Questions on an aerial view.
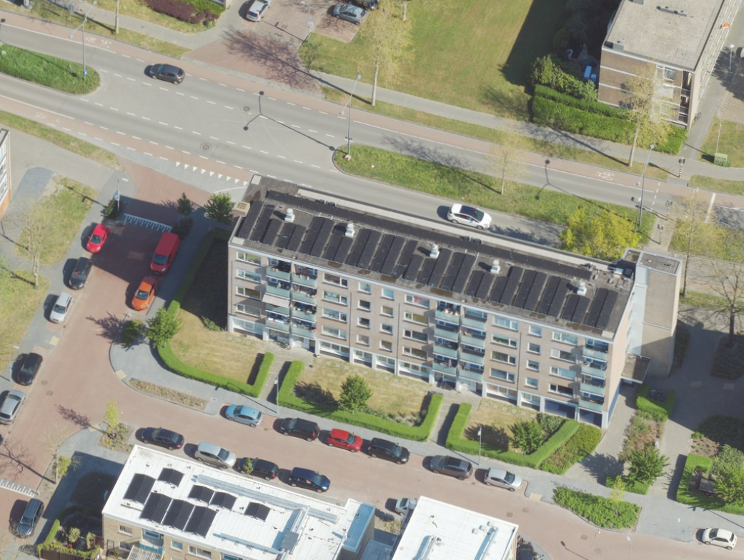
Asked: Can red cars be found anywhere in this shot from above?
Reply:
Yes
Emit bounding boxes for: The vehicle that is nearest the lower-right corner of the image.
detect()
[700,528,738,551]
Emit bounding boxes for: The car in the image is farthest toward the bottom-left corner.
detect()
[16,498,46,539]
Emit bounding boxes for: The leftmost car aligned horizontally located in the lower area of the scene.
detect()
[139,427,187,452]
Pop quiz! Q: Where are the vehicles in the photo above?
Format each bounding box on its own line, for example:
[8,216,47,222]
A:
[366,439,410,465]
[516,538,539,560]
[279,418,321,443]
[427,455,474,481]
[84,221,112,257]
[223,404,266,429]
[193,441,238,471]
[236,455,282,482]
[481,467,524,494]
[130,277,159,312]
[16,498,46,539]
[286,466,333,495]
[242,0,271,25]
[449,204,492,230]
[330,1,370,24]
[0,0,35,9]
[66,256,94,292]
[46,288,76,327]
[139,427,187,452]
[386,494,418,517]
[324,429,366,455]
[700,528,738,551]
[150,223,184,272]
[0,390,27,428]
[147,62,187,87]
[16,349,45,389]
